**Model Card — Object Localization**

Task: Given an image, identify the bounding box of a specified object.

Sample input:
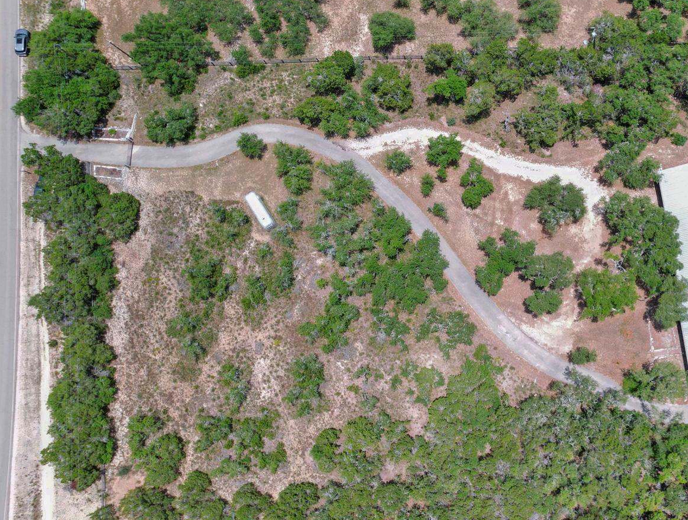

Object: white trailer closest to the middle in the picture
[244,191,276,230]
